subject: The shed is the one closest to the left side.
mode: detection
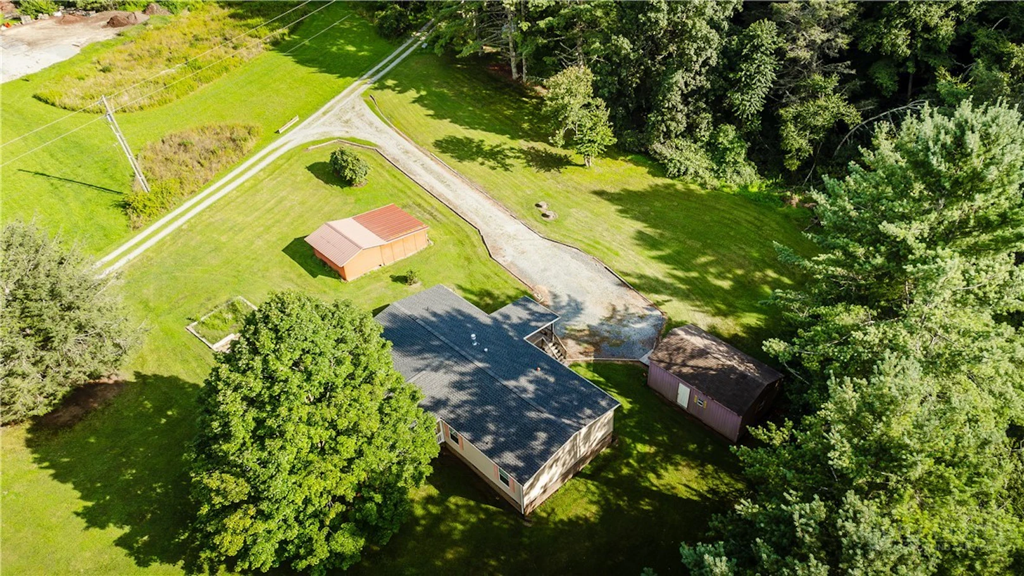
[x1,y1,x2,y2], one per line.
[306,204,429,282]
